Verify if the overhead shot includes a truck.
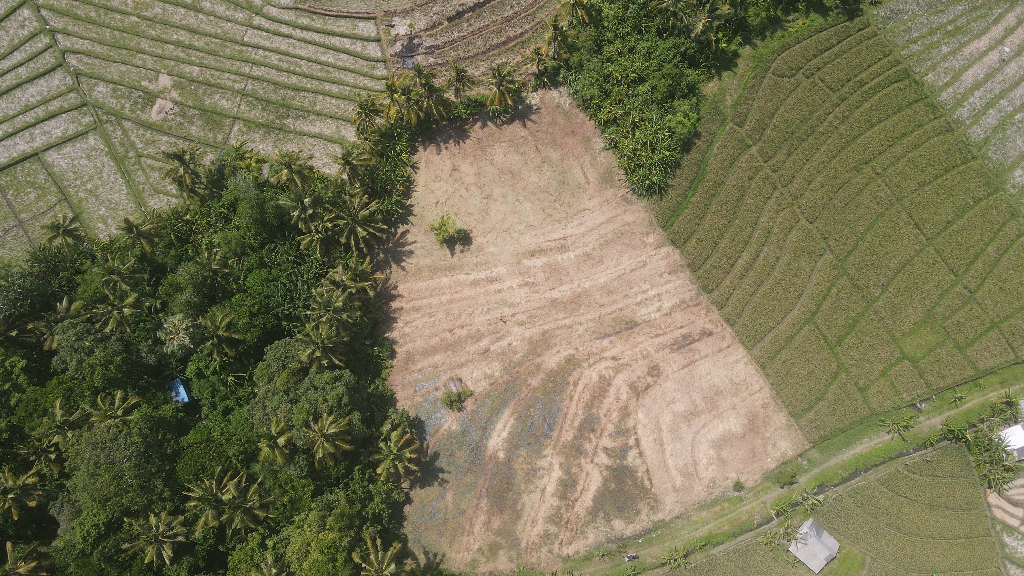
No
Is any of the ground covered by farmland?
Yes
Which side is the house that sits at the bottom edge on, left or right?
right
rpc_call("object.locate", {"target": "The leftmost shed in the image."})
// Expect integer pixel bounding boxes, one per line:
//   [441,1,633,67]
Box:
[169,377,197,407]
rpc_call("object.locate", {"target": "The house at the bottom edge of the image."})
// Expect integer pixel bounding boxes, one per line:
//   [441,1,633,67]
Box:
[785,516,840,574]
